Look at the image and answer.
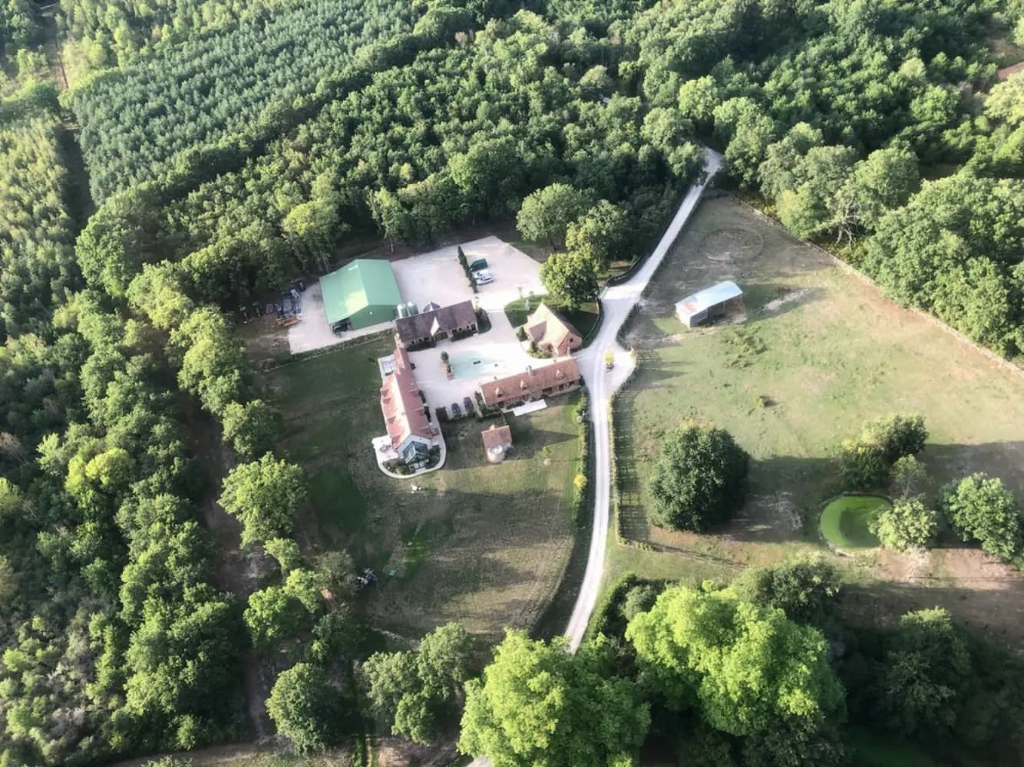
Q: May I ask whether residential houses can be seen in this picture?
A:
Yes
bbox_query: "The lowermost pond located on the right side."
[821,495,889,549]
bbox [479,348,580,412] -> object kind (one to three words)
house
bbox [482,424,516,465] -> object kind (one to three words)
building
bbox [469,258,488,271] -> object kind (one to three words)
vehicle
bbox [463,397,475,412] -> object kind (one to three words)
vehicle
